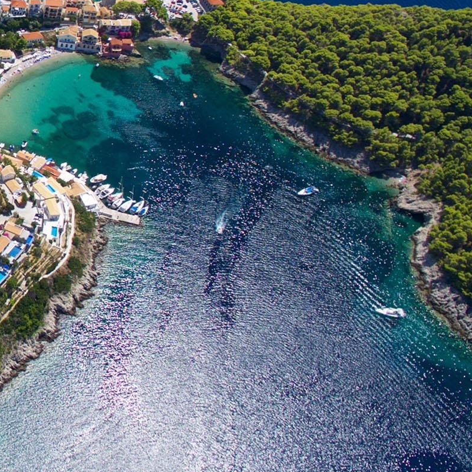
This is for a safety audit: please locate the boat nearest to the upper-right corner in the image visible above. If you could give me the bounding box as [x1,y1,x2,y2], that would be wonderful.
[297,170,321,195]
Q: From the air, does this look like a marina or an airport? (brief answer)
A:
marina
